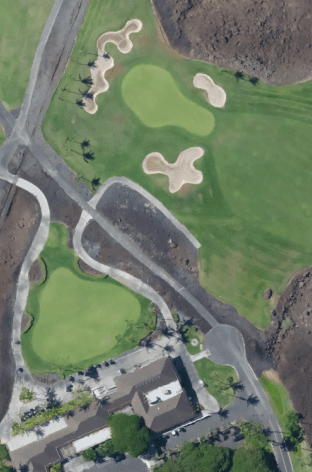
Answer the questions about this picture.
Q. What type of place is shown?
golf course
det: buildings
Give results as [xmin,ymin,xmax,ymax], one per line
[63,456,95,472]
[7,358,198,472]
